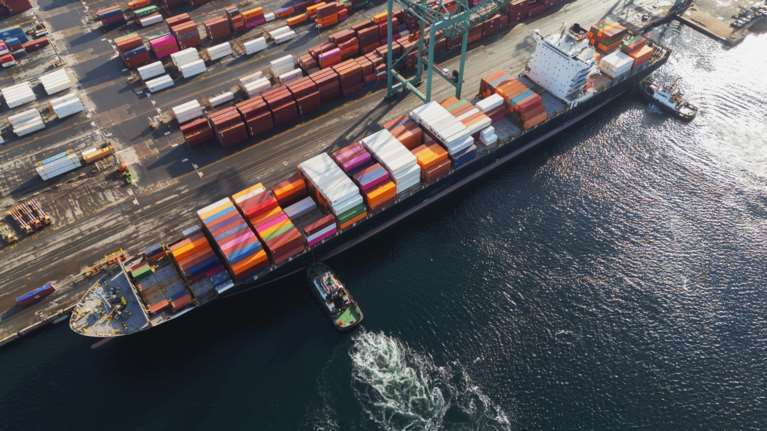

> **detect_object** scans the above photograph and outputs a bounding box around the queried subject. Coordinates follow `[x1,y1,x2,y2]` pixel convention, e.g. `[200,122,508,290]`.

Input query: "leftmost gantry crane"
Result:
[382,0,497,107]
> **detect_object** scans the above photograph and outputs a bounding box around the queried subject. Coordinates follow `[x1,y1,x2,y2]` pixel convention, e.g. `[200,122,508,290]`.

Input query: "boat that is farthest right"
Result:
[640,78,700,118]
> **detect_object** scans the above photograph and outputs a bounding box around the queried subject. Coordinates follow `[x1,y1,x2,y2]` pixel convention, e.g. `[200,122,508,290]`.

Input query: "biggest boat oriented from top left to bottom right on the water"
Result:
[303,260,359,334]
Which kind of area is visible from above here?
port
